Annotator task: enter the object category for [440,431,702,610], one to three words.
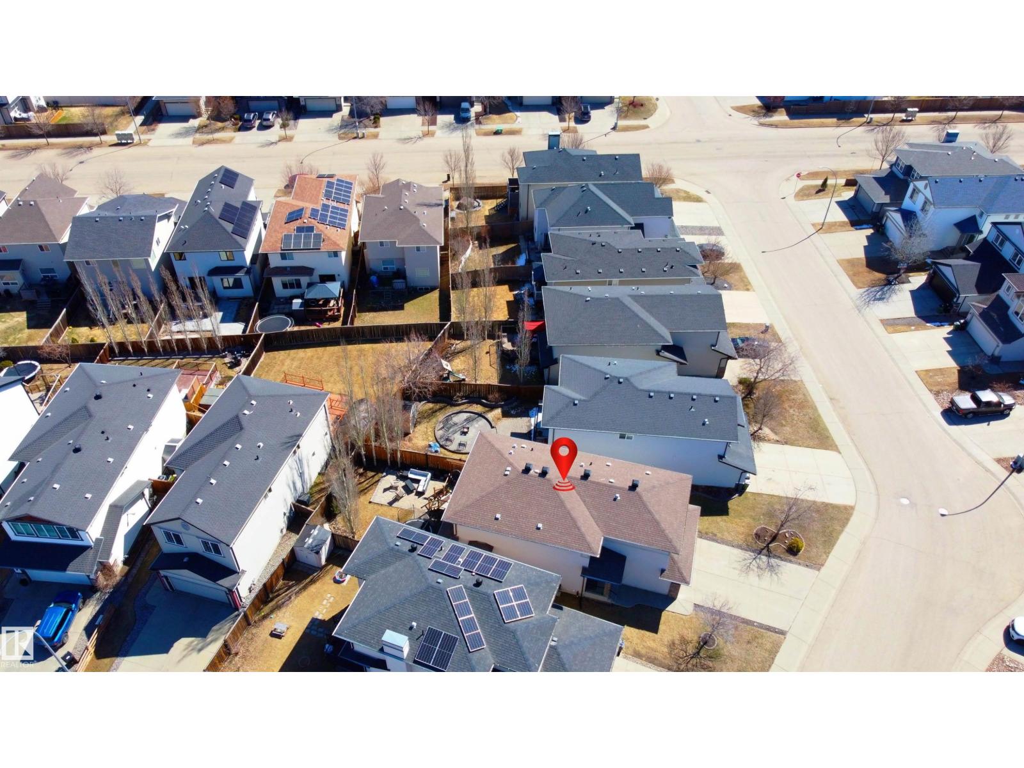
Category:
house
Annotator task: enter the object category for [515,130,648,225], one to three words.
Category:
house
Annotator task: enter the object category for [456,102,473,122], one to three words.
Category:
vehicle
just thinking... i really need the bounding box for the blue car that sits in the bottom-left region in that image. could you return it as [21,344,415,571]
[25,585,85,652]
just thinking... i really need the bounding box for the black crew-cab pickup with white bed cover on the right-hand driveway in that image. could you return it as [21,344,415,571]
[948,387,1021,419]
